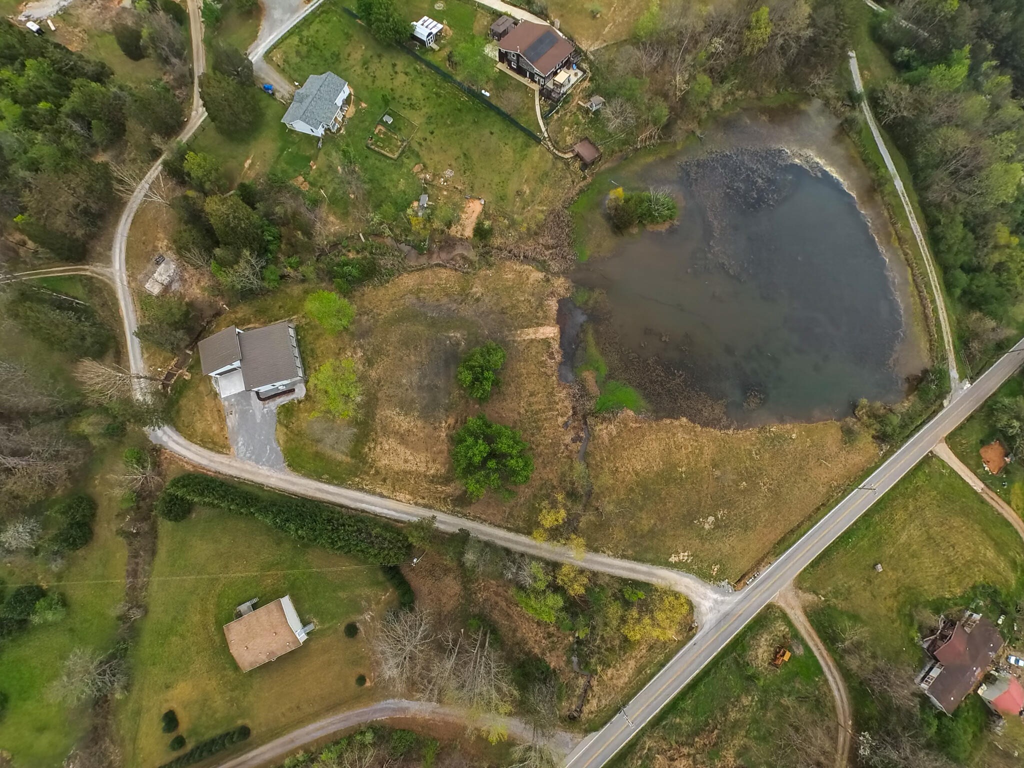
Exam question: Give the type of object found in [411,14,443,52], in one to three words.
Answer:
shed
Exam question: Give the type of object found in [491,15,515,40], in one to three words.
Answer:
gazebo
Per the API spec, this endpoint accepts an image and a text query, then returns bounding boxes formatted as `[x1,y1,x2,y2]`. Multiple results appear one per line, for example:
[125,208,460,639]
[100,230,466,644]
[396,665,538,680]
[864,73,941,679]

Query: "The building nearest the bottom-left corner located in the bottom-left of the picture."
[223,594,318,673]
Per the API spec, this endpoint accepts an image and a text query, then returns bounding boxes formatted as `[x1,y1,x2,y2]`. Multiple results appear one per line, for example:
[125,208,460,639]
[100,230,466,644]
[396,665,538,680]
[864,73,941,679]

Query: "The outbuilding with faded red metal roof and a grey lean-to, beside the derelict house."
[975,665,1024,712]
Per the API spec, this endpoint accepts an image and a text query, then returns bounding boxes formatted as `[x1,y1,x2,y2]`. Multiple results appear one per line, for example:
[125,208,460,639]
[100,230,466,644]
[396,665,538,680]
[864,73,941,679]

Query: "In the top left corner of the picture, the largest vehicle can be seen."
[24,21,44,39]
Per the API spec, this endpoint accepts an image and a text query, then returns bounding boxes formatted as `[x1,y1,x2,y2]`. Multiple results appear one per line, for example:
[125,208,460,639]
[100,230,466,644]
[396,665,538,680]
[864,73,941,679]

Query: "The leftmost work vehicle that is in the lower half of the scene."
[766,644,790,670]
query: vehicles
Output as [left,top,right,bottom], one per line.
[153,255,165,265]
[24,21,44,39]
[1005,654,1024,668]
[766,644,790,670]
